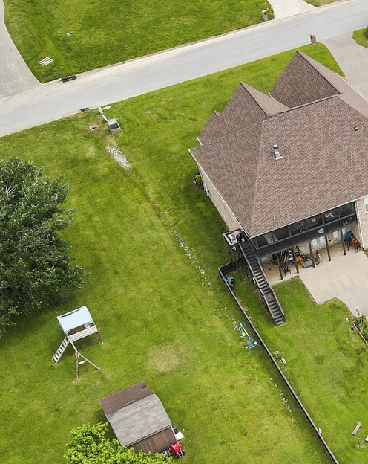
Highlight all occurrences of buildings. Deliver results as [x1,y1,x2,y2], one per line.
[101,381,174,457]
[189,51,368,279]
